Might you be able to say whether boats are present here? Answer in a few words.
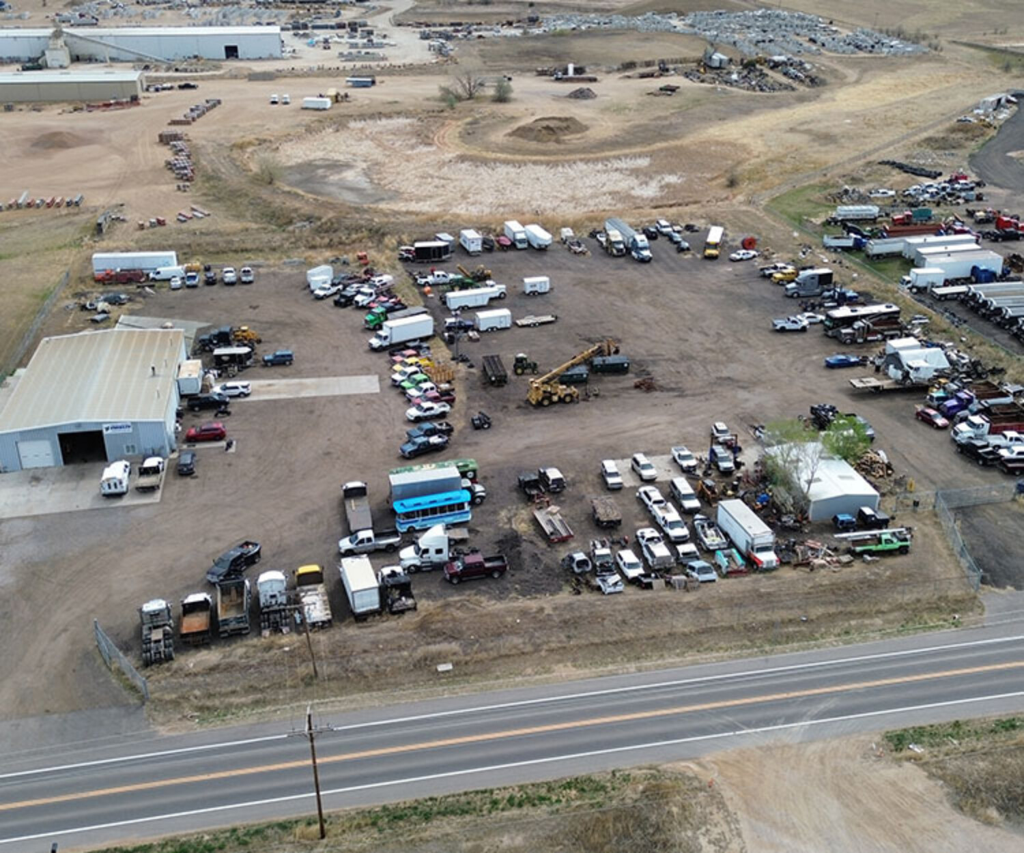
Yes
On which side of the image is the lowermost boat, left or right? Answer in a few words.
right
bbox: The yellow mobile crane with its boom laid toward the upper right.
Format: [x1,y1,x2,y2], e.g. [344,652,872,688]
[528,339,618,403]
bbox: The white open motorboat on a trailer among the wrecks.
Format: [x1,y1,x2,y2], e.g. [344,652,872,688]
[692,516,729,560]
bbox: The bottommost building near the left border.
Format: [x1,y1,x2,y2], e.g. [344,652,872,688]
[0,327,195,476]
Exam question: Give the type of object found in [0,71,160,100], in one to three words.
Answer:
barn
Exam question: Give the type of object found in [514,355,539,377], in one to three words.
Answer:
work vehicle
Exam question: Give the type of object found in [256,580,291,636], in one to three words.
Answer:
truck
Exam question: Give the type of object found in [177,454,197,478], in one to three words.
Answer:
car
